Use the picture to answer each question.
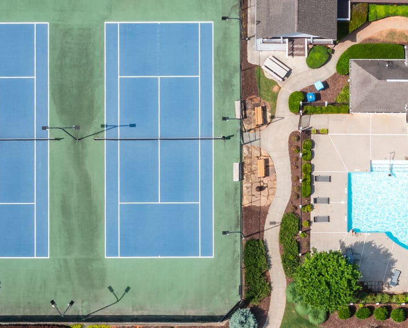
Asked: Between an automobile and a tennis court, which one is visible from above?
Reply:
tennis court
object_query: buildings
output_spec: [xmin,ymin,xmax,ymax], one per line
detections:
[349,47,408,130]
[256,0,352,57]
